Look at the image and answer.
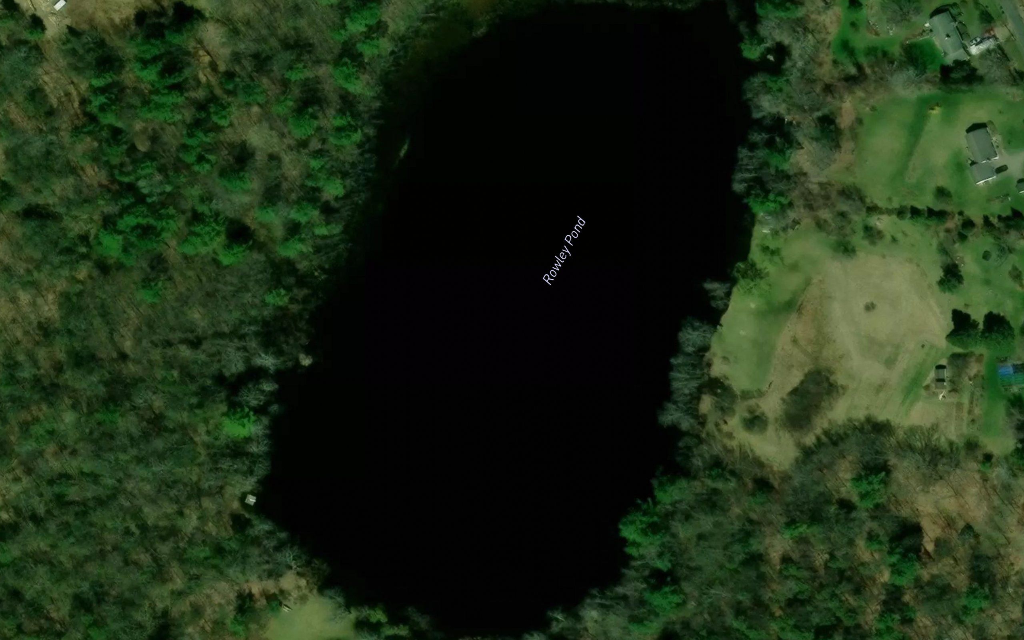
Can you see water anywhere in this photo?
Yes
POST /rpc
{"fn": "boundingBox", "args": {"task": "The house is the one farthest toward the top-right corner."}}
[928,8,970,61]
